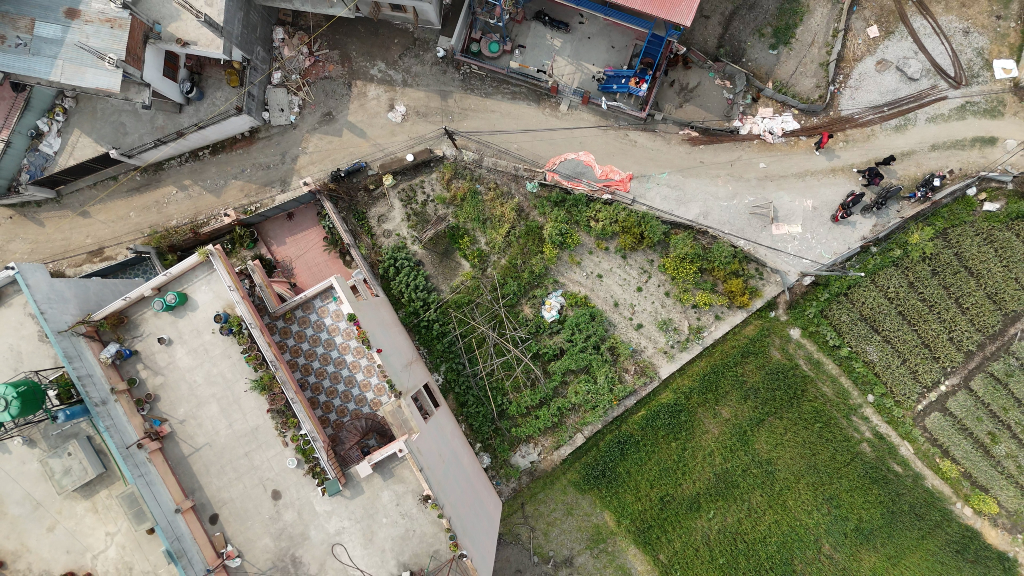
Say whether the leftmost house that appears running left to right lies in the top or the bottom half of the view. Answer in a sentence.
The leftmost house that appears running left to right sits in the top half of the picture.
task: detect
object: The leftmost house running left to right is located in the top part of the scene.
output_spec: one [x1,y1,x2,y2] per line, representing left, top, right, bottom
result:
[0,0,277,114]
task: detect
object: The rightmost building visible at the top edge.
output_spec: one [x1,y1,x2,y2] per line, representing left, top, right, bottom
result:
[542,0,700,102]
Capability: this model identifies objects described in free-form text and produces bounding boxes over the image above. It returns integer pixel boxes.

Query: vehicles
[905,171,950,199]
[861,184,905,211]
[328,158,368,181]
[830,189,866,222]
[531,2,570,34]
